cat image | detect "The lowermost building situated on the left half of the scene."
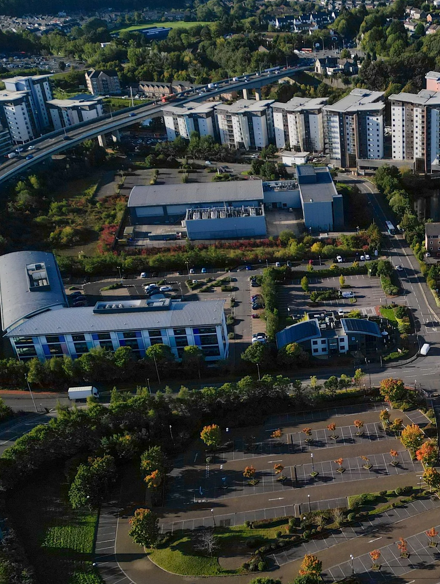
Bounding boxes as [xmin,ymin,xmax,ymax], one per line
[0,248,230,365]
